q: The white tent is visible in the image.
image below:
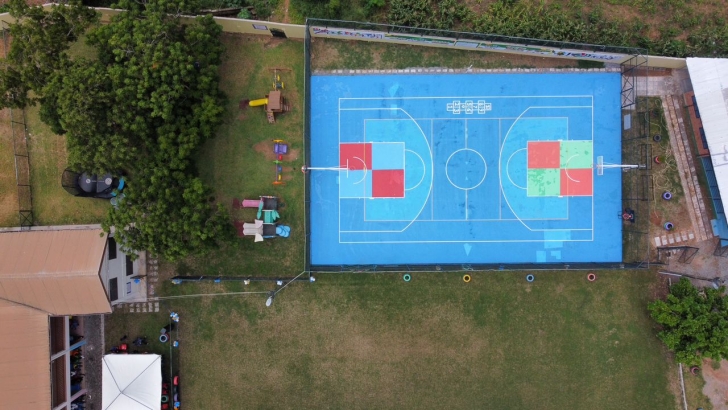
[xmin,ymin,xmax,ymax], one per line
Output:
[102,346,173,410]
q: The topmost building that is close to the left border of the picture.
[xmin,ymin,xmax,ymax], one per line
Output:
[0,229,138,315]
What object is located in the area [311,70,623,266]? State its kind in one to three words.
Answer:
basketball court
